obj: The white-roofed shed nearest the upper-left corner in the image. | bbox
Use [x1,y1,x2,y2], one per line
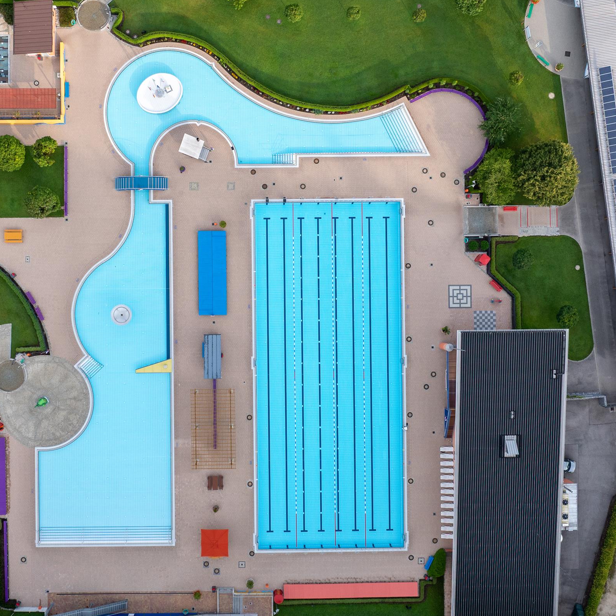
[178,134,212,161]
